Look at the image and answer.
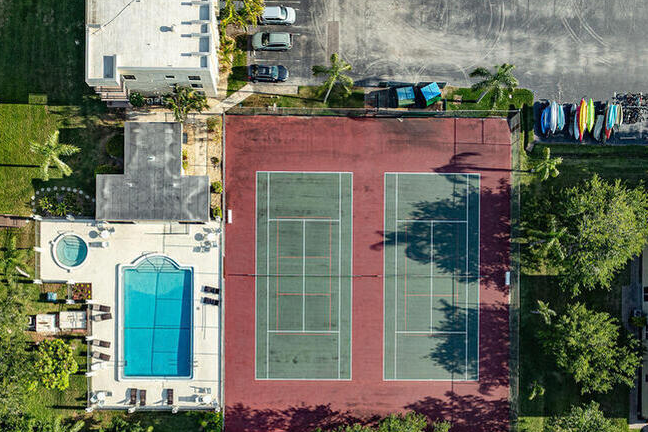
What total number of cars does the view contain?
3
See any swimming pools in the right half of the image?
No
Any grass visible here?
Yes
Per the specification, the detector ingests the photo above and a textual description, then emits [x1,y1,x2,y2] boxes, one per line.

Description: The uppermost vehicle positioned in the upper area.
[259,3,295,23]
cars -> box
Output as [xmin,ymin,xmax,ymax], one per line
[259,3,295,23]
[248,60,288,81]
[254,29,291,49]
